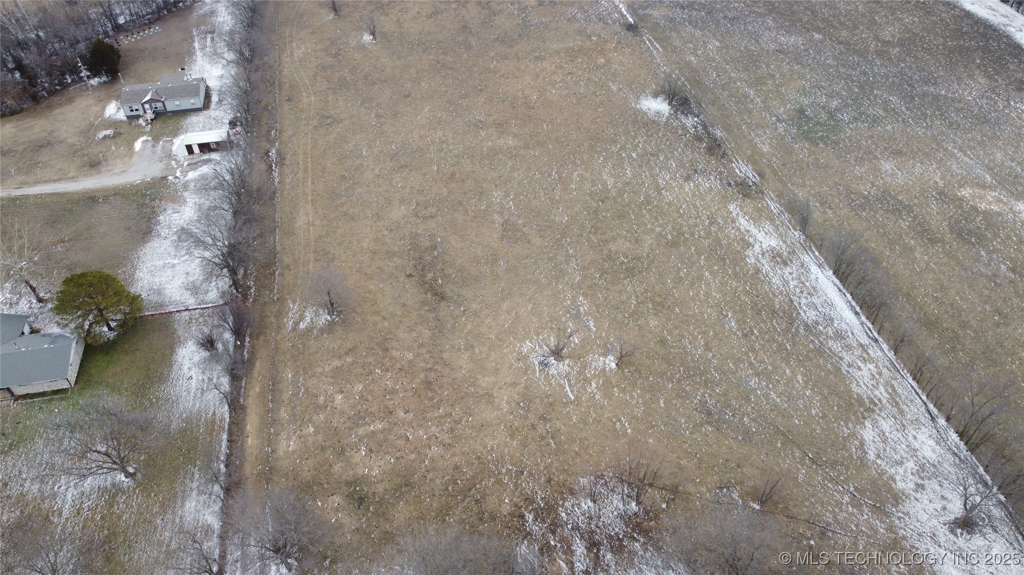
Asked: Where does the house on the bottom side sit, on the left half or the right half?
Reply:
left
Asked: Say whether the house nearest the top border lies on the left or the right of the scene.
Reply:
left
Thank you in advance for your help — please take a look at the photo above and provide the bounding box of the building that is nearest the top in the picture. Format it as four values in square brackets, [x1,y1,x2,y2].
[120,75,213,122]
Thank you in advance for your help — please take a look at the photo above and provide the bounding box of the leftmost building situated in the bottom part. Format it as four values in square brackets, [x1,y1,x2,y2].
[0,312,89,399]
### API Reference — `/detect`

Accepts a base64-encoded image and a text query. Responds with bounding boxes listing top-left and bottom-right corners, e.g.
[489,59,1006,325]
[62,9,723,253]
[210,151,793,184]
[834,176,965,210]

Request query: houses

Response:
[0,312,89,399]
[120,75,213,122]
